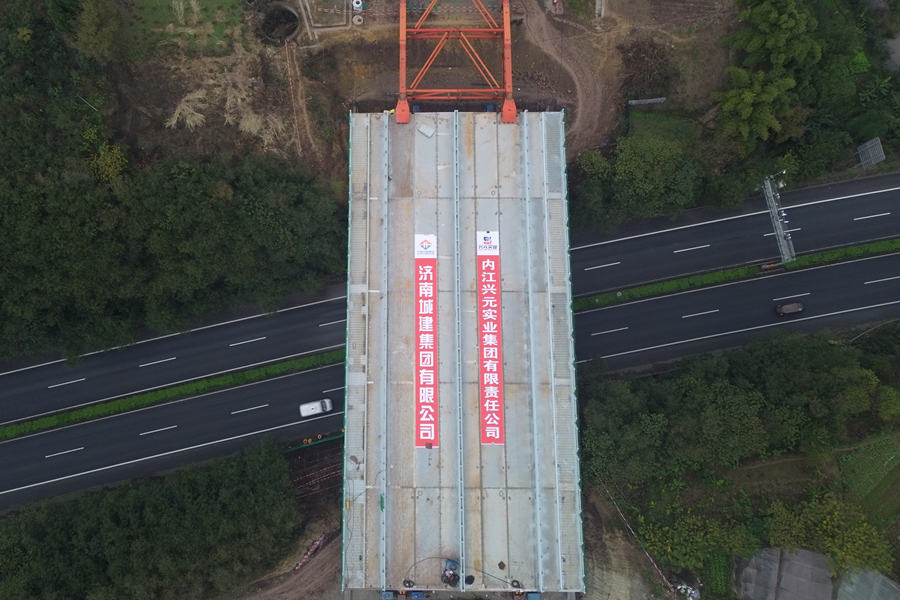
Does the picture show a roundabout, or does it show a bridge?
bridge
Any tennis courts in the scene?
No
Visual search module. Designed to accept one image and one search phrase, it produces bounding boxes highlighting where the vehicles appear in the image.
[774,301,802,315]
[300,400,333,416]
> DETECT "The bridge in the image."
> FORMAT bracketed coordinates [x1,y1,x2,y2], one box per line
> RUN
[340,104,588,597]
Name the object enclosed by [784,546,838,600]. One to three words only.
greenhouse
